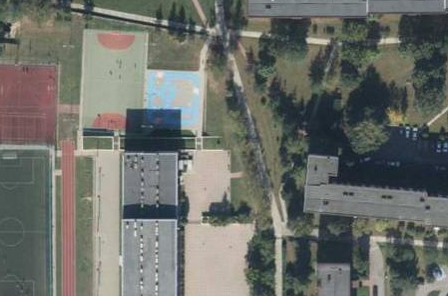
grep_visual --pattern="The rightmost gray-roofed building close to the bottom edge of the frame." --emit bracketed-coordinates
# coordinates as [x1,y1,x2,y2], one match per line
[318,262,352,296]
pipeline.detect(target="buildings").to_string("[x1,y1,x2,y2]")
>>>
[303,155,448,227]
[119,153,185,296]
[246,0,448,19]
[318,262,352,296]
